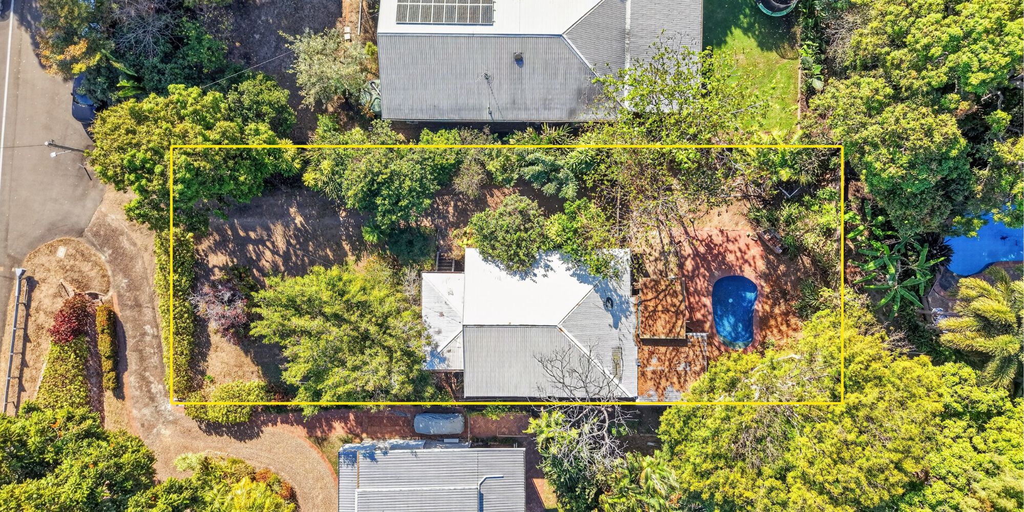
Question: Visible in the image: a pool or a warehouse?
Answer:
pool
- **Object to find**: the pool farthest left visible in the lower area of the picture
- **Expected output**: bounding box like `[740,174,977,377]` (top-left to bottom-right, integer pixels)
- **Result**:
[707,270,763,355]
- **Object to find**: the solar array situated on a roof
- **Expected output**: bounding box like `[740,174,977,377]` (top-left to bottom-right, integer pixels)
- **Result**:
[396,0,496,23]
